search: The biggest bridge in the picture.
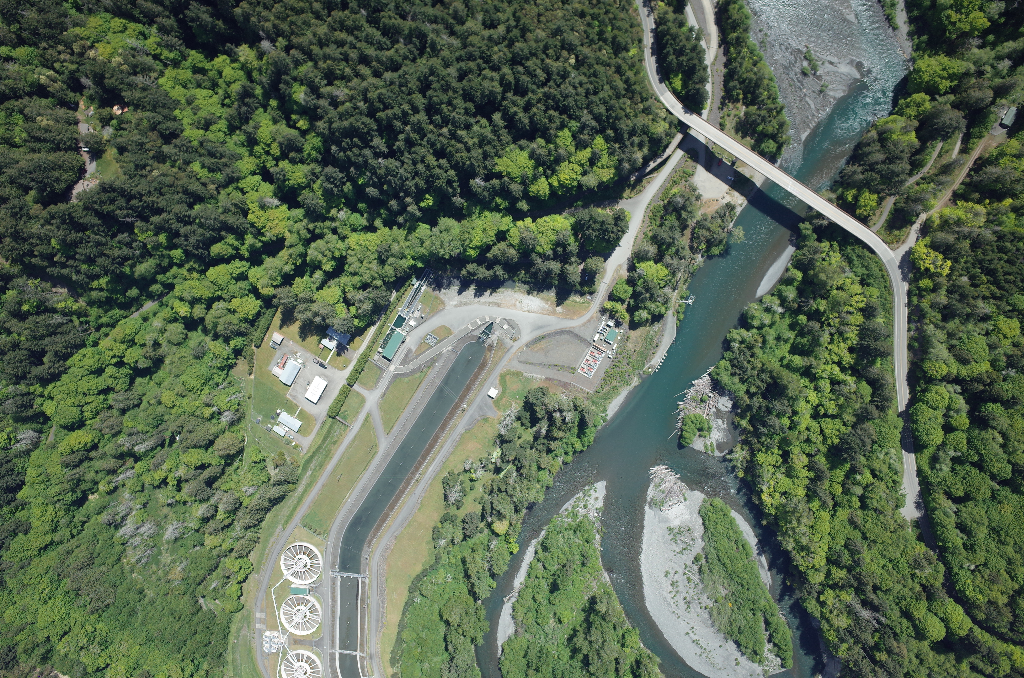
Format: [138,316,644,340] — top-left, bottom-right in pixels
[660,86,896,263]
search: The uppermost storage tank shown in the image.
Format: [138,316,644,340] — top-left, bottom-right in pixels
[281,542,323,585]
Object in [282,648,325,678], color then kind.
white storage tank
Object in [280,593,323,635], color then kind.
white storage tank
